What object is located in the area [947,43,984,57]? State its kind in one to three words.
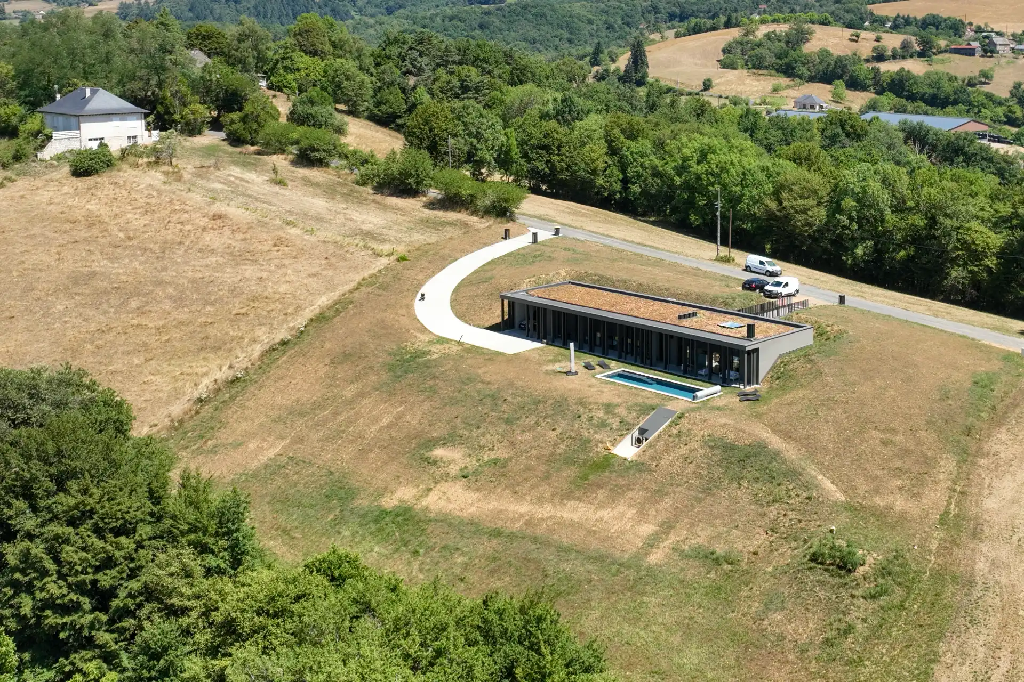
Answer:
barn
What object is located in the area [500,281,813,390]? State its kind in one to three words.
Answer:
house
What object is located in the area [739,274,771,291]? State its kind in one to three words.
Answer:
car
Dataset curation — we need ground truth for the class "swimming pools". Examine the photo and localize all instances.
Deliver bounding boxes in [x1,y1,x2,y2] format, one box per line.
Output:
[595,369,723,403]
